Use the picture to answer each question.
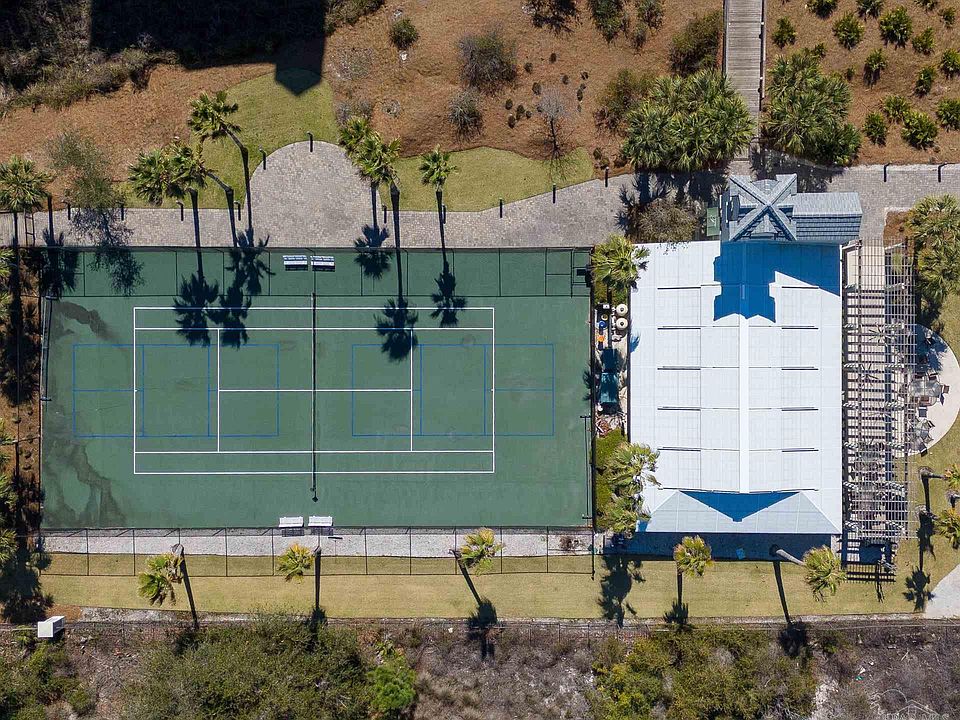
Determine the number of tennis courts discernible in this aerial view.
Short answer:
1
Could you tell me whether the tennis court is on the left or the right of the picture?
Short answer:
left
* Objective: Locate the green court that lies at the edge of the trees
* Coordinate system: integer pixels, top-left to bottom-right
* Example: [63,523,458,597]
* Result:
[42,250,592,529]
